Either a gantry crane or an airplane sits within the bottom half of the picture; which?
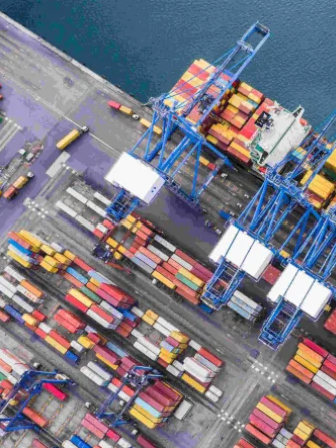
gantry crane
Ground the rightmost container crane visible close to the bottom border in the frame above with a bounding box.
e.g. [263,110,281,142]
[89,361,168,437]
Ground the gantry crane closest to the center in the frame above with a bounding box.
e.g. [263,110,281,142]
[83,212,159,274]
